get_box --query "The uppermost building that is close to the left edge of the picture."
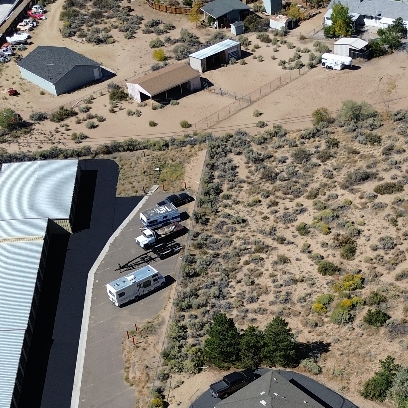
[17,51,89,98]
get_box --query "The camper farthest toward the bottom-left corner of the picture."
[105,268,170,309]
